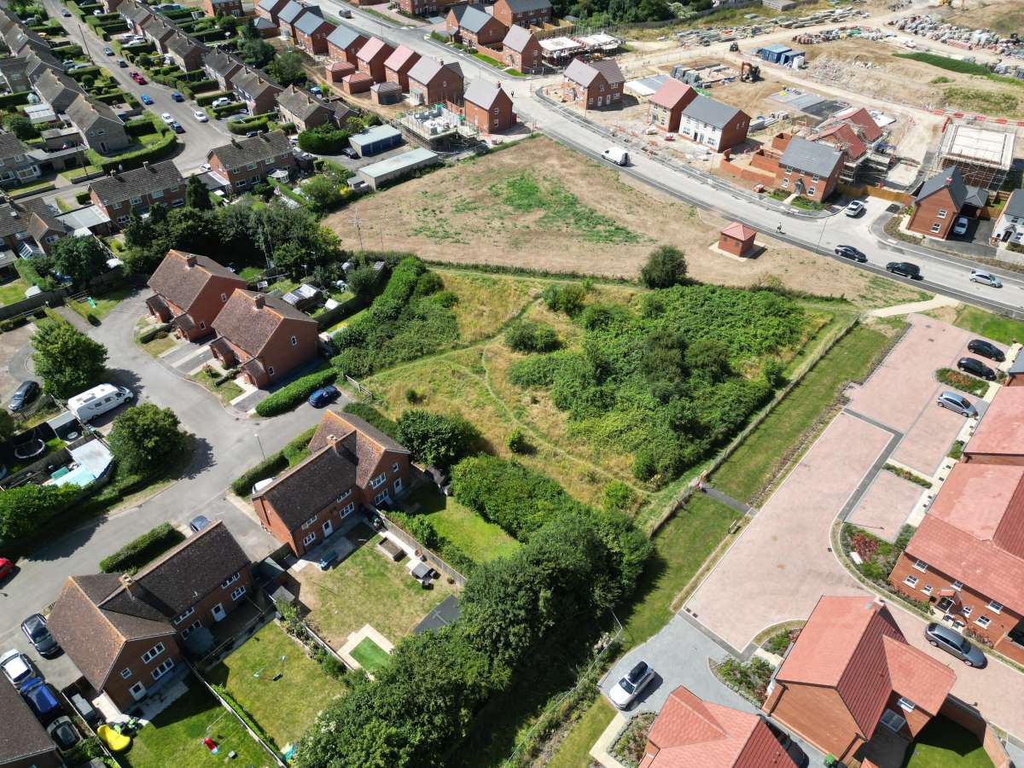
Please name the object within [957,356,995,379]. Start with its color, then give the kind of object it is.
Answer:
black car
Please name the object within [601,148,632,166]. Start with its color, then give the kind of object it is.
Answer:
white vehicle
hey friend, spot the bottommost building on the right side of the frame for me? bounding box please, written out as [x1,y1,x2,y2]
[640,693,787,768]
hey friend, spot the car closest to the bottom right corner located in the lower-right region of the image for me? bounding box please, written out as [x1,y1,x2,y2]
[923,622,987,669]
